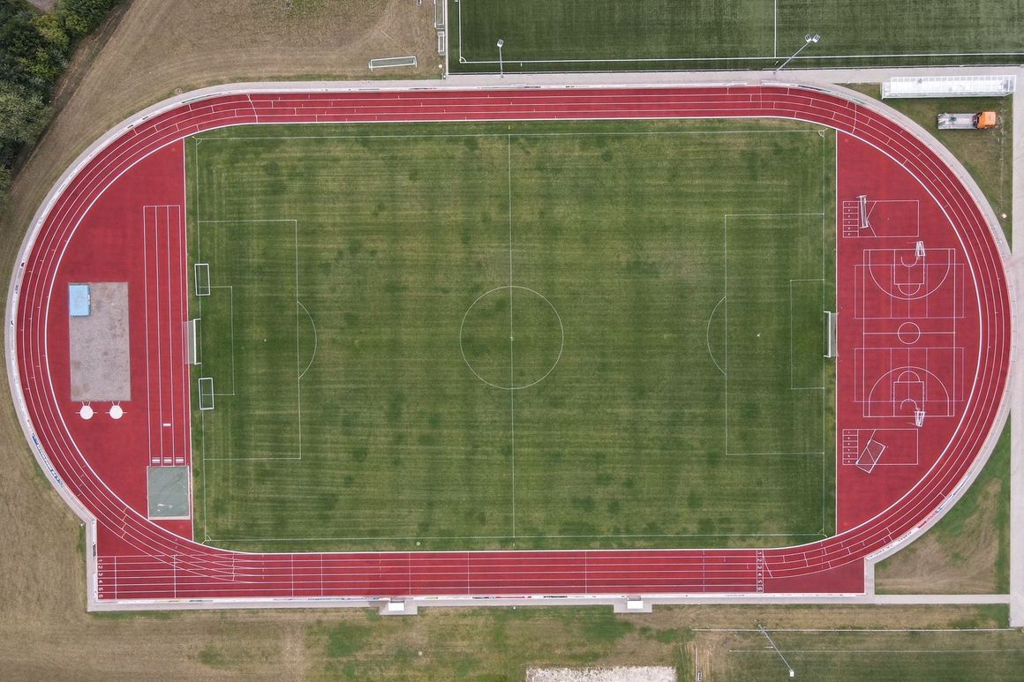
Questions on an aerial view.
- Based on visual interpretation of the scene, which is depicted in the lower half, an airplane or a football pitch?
football pitch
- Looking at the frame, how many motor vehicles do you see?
1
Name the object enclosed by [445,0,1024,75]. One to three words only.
soccer field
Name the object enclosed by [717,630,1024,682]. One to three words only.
soccer field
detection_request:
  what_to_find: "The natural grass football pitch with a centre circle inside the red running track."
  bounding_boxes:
[185,117,836,553]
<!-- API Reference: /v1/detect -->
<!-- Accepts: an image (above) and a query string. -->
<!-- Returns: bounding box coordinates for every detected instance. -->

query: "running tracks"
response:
[16,84,1012,602]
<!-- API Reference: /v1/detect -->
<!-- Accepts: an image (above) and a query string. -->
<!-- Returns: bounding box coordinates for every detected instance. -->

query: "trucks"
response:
[937,109,994,130]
